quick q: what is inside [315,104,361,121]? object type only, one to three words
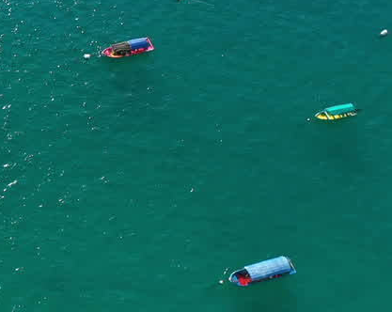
boat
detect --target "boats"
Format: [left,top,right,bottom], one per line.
[229,258,298,285]
[315,104,361,121]
[102,35,155,56]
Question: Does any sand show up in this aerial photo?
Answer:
No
